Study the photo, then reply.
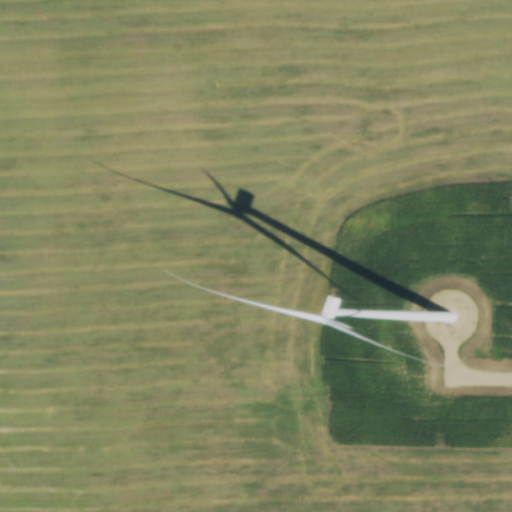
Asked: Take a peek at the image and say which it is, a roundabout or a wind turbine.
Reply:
wind turbine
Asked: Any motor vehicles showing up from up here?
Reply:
No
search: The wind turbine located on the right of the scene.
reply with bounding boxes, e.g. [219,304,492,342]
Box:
[165,270,458,368]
